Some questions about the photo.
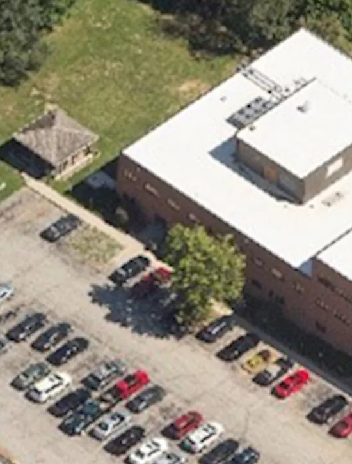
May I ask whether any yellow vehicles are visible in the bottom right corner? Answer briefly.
Yes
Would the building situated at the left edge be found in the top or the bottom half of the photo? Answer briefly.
top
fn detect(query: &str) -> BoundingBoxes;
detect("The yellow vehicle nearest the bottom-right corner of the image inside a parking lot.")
[238,347,276,378]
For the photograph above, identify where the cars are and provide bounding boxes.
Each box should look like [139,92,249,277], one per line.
[330,412,352,440]
[47,336,90,368]
[38,213,80,245]
[161,405,204,444]
[10,356,54,393]
[109,254,150,287]
[126,433,169,464]
[6,308,49,345]
[180,418,223,456]
[272,369,312,400]
[252,357,293,388]
[30,321,72,354]
[129,267,166,299]
[48,386,91,420]
[219,327,261,364]
[125,384,167,417]
[90,410,132,442]
[103,424,145,458]
[238,347,276,378]
[82,355,124,392]
[225,448,261,464]
[198,438,241,464]
[28,368,71,404]
[308,393,350,427]
[198,313,235,344]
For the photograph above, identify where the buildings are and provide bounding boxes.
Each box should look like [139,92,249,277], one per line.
[123,30,352,357]
[11,108,99,181]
